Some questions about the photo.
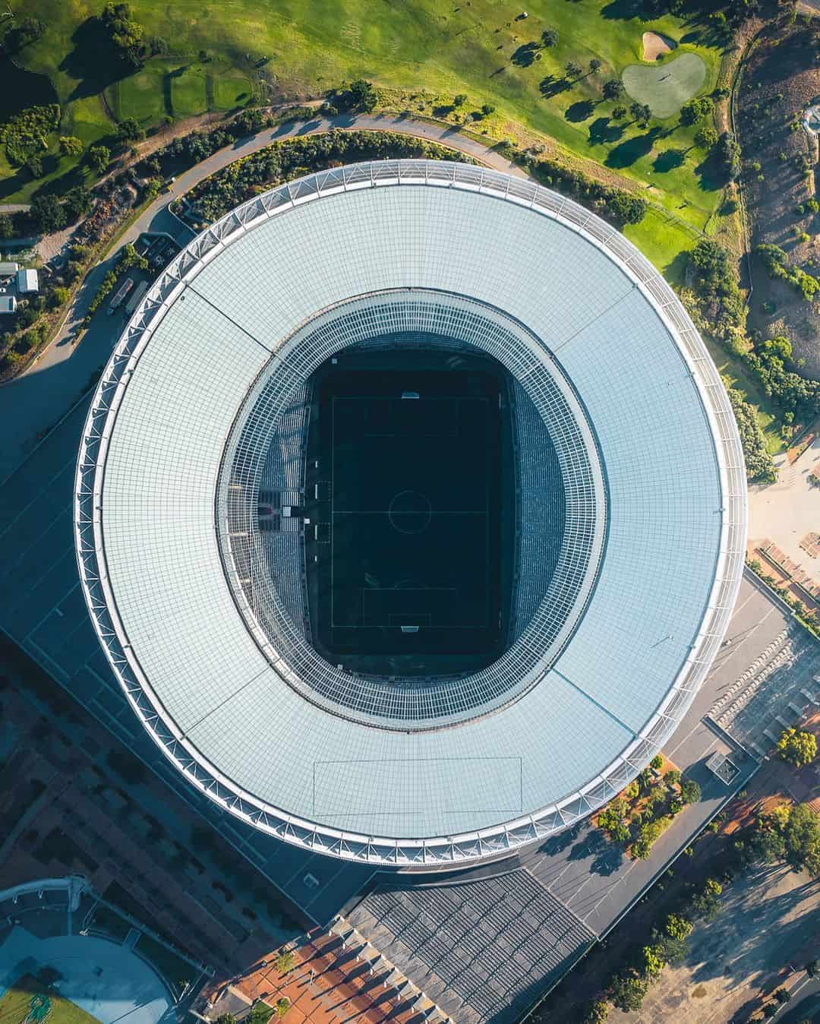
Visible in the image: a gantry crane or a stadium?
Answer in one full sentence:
There is a stadium in the scene.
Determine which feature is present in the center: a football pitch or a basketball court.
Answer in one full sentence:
There is a football pitch in the center.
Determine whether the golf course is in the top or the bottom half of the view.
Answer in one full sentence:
You can find the golf course in the top half.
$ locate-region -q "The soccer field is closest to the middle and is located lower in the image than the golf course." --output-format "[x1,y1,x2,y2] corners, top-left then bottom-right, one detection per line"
[310,356,510,668]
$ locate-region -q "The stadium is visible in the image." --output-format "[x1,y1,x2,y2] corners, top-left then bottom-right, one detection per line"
[73,158,749,865]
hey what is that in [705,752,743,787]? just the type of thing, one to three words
building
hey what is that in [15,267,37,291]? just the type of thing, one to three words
shed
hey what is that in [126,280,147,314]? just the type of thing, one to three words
truck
